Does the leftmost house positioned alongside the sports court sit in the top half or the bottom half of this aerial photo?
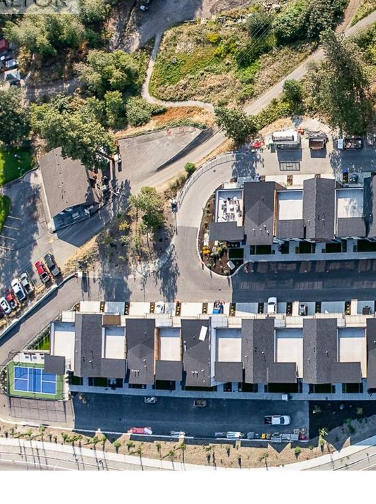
bottom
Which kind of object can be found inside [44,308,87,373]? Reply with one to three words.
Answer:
house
